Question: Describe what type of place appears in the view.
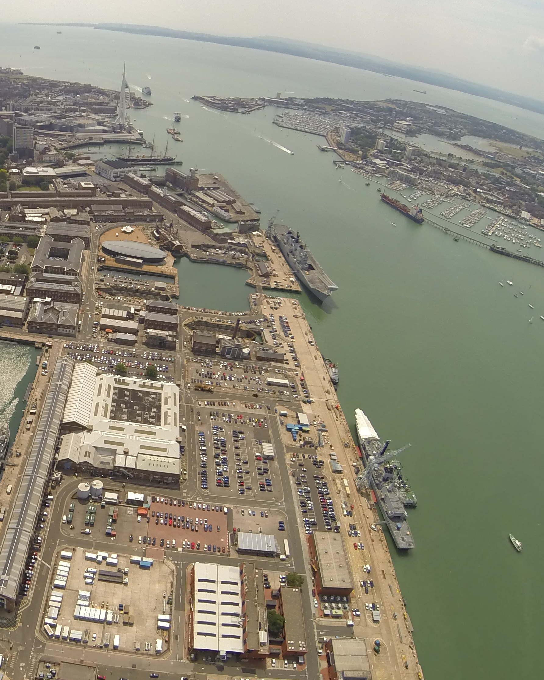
port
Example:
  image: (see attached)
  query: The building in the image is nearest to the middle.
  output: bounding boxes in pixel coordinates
[254,346,284,363]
